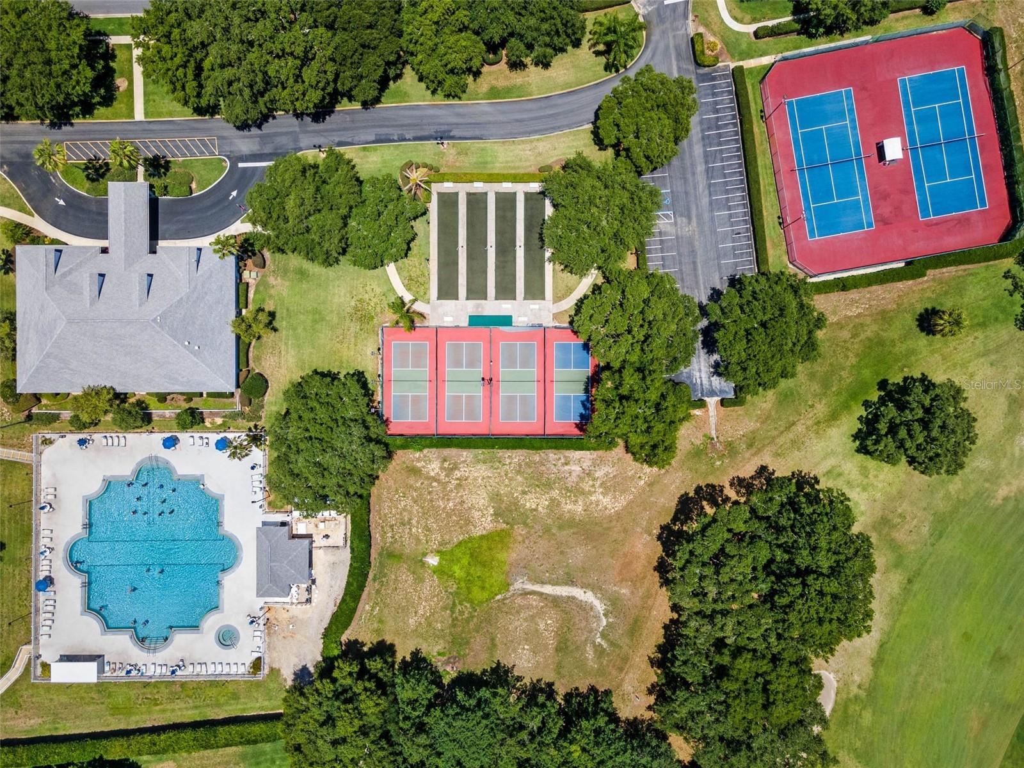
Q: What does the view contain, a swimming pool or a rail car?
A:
swimming pool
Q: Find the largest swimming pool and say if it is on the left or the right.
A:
left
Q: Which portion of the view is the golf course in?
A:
bottom right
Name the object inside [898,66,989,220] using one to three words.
tennis court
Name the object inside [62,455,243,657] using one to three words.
swimming pool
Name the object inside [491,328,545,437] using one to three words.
sports court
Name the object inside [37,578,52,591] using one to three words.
umbrella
